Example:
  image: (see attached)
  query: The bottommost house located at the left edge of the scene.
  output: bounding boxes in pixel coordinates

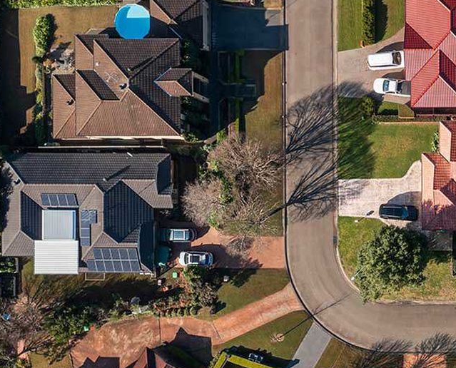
[1,153,174,281]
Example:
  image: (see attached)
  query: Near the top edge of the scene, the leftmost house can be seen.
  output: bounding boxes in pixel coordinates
[51,0,214,138]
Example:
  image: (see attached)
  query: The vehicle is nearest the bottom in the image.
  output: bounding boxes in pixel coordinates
[178,250,214,267]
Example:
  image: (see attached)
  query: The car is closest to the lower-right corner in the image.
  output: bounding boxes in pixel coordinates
[380,204,418,220]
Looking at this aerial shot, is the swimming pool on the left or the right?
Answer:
left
